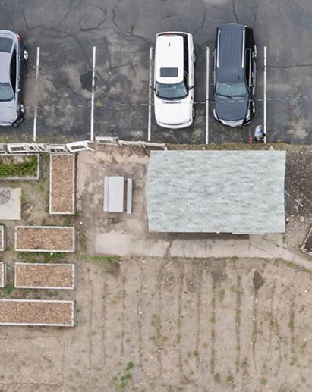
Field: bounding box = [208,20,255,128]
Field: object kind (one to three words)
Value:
car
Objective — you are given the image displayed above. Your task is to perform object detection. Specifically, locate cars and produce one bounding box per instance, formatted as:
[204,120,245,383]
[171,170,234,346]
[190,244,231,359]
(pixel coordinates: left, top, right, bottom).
[0,30,26,128]
[147,32,196,129]
[208,20,255,128]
